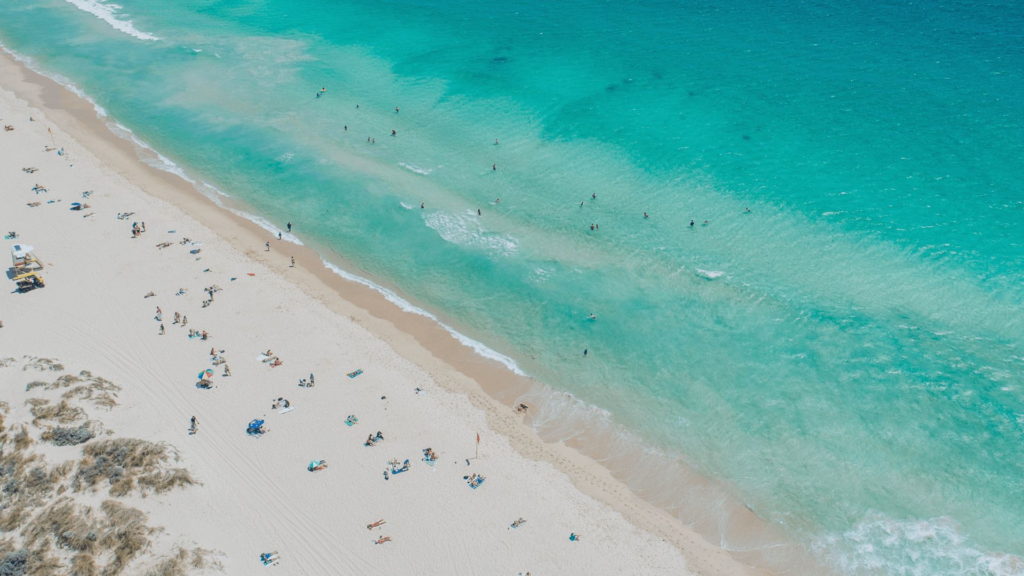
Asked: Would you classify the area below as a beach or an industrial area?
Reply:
beach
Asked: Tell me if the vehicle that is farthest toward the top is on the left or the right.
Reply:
left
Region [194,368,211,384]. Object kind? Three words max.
umbrella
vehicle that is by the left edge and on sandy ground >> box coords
[8,275,45,297]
